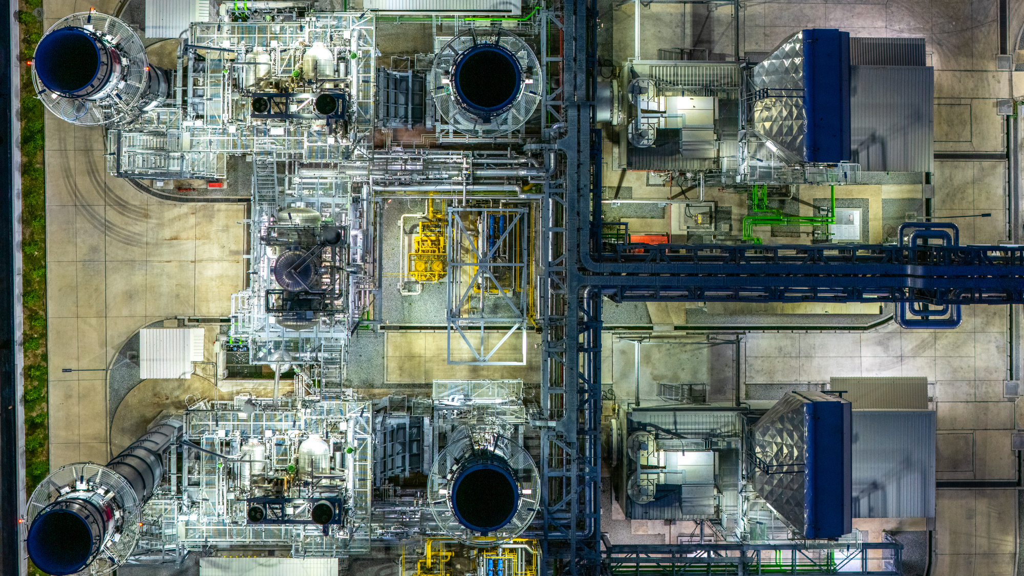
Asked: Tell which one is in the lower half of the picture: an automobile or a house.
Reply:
house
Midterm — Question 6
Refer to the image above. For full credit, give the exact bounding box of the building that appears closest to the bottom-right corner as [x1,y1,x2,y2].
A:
[851,406,935,517]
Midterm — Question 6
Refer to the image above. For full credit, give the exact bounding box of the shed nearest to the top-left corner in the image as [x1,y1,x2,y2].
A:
[145,0,214,41]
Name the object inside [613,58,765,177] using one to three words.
house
